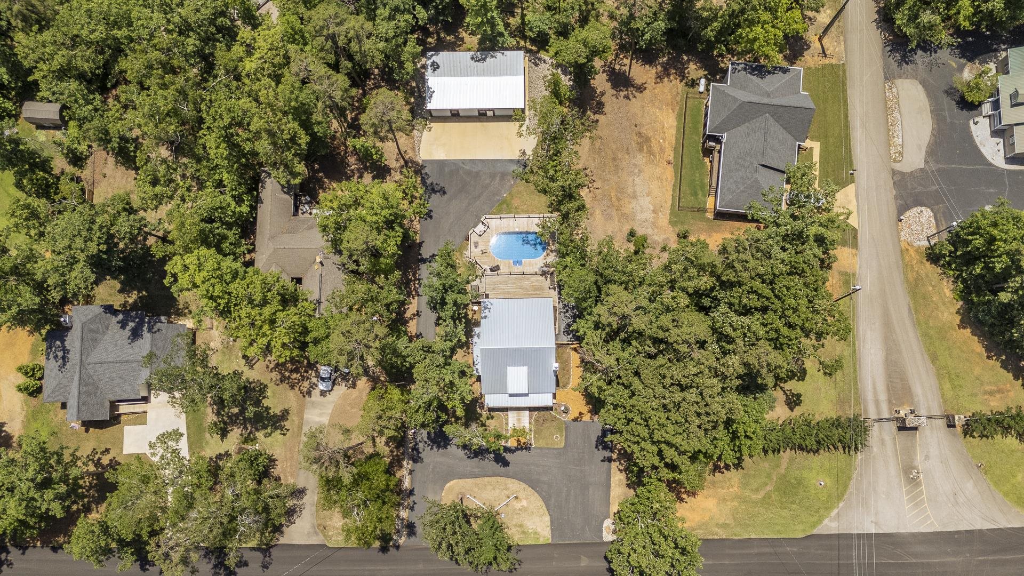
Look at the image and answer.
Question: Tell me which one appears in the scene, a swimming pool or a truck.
swimming pool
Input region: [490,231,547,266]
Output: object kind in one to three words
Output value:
swimming pool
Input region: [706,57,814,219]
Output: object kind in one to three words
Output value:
house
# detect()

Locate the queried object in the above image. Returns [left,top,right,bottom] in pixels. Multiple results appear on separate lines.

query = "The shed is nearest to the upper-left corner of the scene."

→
[23,107,71,130]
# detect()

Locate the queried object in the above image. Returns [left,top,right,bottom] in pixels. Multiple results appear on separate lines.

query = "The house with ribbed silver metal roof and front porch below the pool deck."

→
[473,297,559,408]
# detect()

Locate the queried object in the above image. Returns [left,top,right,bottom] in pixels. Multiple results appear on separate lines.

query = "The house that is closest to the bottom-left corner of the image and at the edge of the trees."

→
[43,305,191,421]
